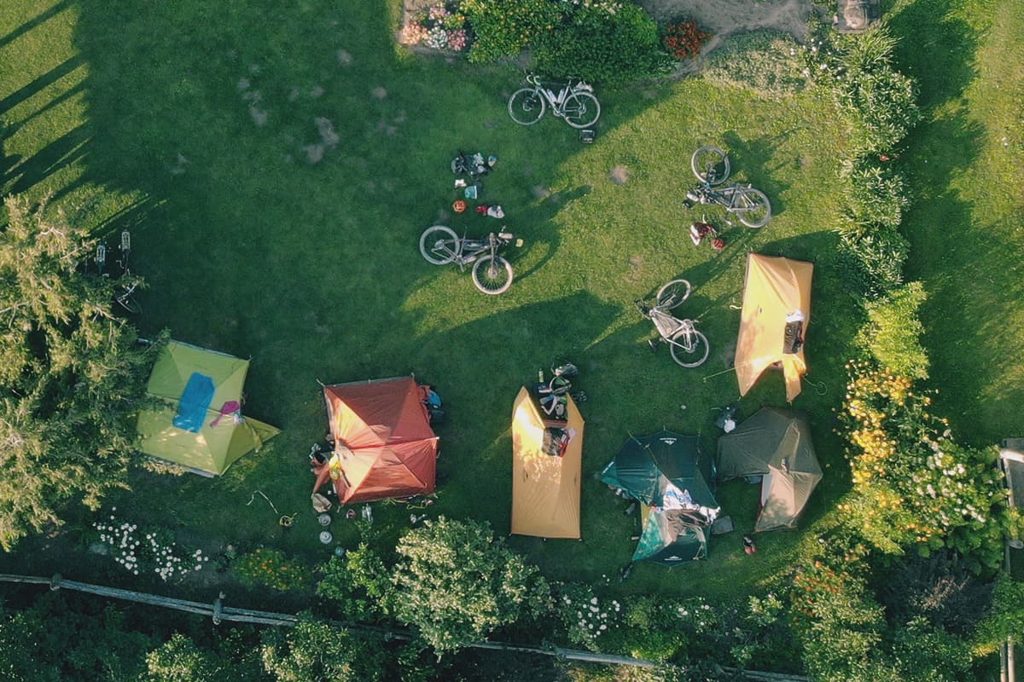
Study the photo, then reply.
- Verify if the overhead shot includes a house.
No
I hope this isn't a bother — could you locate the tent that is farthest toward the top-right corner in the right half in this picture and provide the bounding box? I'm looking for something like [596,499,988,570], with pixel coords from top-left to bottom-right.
[705,250,827,405]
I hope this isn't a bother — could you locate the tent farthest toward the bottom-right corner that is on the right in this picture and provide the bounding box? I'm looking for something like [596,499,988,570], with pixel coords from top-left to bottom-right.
[712,403,830,536]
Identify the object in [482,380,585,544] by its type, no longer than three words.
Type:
tent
